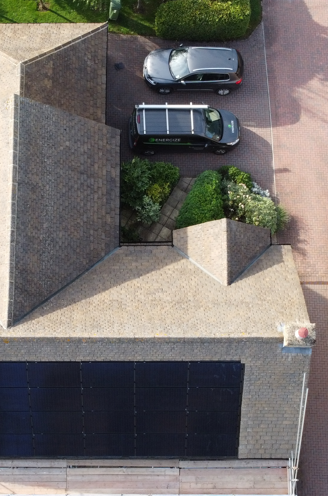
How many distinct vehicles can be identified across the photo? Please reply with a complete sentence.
In total, 2 vehicles can be seen.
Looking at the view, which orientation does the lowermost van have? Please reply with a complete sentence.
From this overhead view, the lowermost van appears to run horizontally.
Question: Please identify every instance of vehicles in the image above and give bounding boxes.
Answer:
[142,44,245,99]
[128,102,242,157]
